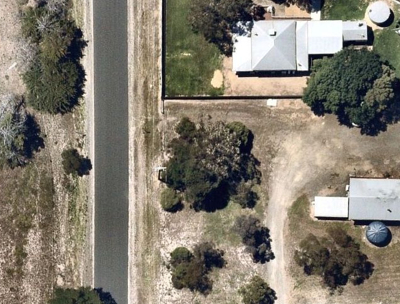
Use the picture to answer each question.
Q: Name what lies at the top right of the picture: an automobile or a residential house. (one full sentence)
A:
It is a residential house that can be seen at the top right of the picture.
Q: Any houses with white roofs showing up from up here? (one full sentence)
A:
Yes, there's a house with a white roof down there.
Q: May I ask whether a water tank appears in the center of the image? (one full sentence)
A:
No, I see no water tank in the center of the image.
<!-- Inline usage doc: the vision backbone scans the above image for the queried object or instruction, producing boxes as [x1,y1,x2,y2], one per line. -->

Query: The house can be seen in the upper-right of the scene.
[232,20,367,73]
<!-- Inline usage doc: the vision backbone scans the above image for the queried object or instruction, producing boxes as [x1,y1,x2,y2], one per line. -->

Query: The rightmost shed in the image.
[348,177,400,222]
